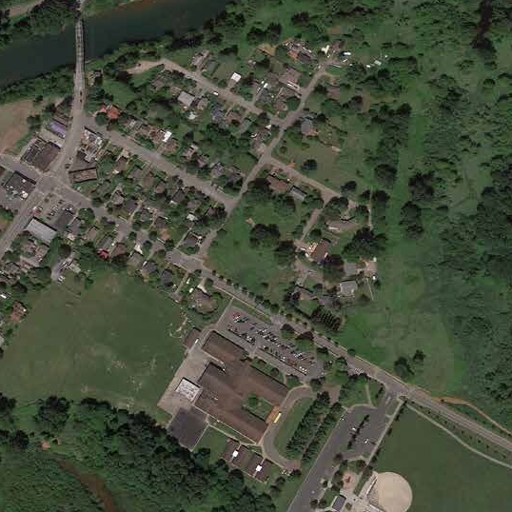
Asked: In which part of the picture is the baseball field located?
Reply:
bottom right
